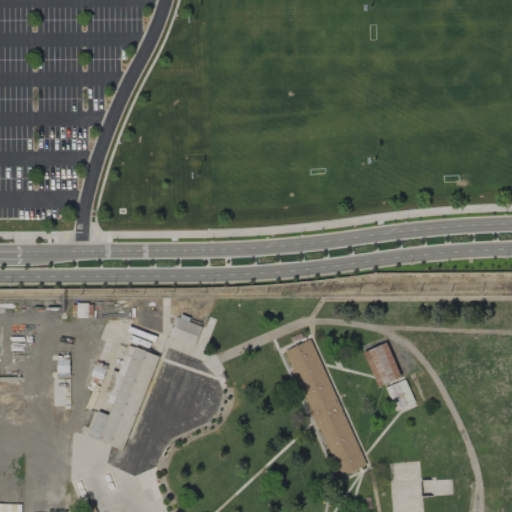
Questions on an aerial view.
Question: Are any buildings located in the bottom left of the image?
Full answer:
Yes, a building can be seen in the bottom left of the image.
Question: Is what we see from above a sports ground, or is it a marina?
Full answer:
It's a sports ground.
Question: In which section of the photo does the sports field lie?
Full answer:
The sports field sits in the top section of the image.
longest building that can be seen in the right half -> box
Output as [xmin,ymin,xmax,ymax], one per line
[287,340,366,476]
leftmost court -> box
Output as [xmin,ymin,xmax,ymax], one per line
[390,462,424,512]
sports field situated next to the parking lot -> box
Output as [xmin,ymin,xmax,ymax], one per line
[98,0,512,231]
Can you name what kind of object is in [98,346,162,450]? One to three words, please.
building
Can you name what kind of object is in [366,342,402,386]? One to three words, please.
barn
